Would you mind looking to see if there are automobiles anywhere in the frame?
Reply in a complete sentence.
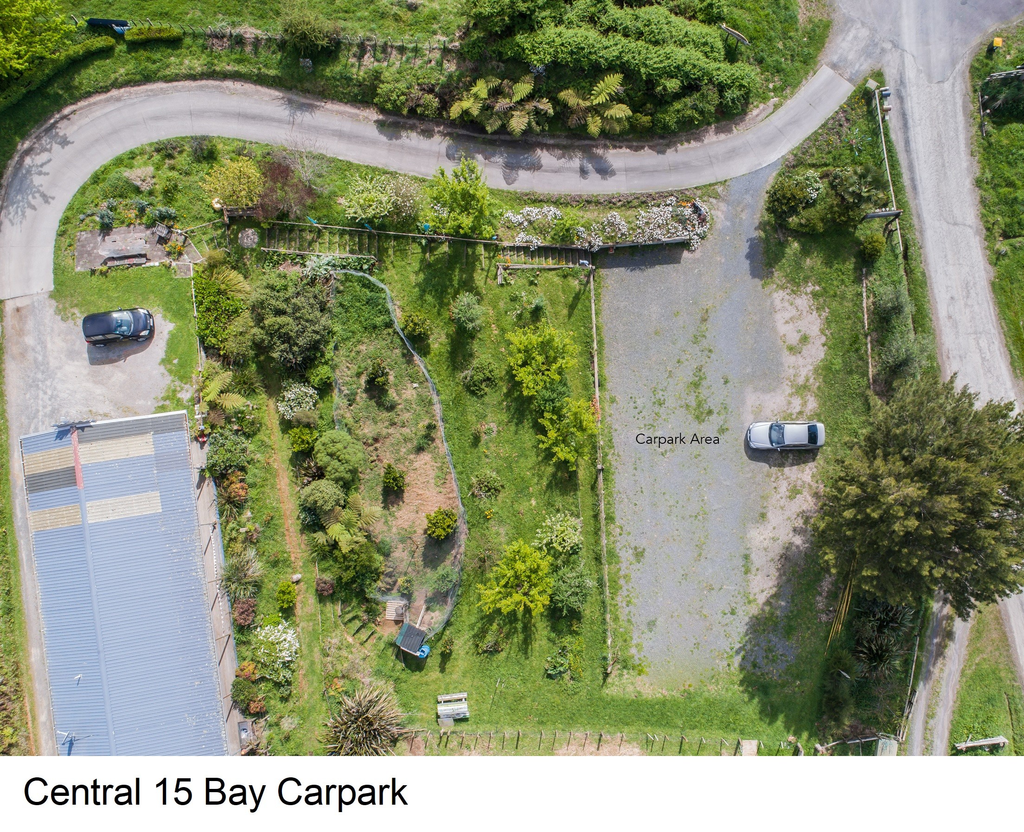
Yes, the frame does contain an automobile.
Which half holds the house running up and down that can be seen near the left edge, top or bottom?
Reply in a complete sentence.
Seen from above, the house running up and down that can be seen near the left edge lies in the bottom half of the view.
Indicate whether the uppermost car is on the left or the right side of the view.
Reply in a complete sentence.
The uppermost car sits on the left side.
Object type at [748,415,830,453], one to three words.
car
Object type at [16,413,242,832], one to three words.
house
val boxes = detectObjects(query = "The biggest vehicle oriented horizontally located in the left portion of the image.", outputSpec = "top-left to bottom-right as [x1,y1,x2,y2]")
[77,308,155,346]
